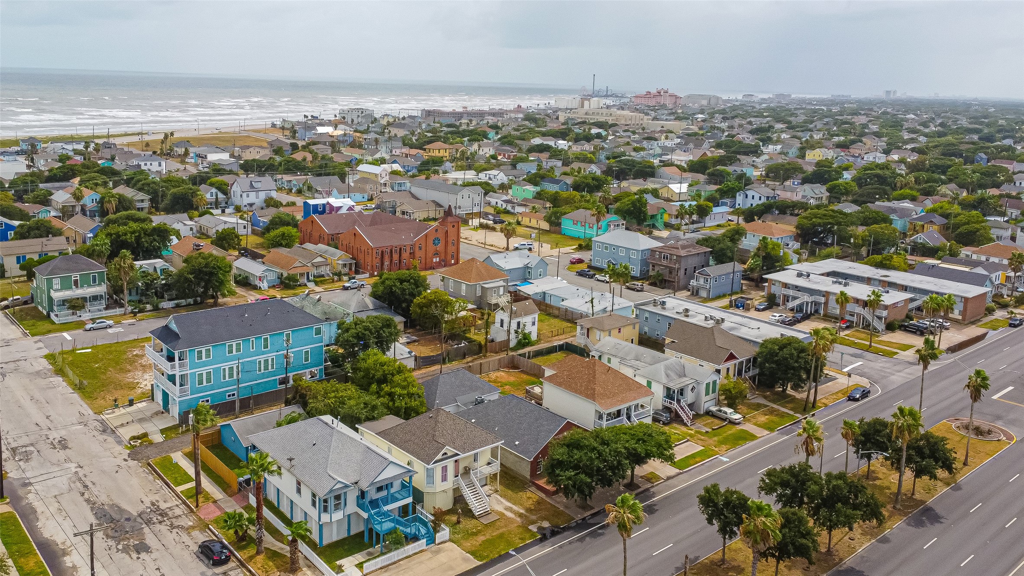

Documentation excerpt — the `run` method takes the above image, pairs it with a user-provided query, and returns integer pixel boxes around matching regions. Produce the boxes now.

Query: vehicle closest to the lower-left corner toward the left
[199,540,234,568]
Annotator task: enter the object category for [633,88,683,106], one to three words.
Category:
building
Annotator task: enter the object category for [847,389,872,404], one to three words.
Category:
car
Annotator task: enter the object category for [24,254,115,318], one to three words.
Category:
house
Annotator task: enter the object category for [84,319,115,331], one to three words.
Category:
vehicle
